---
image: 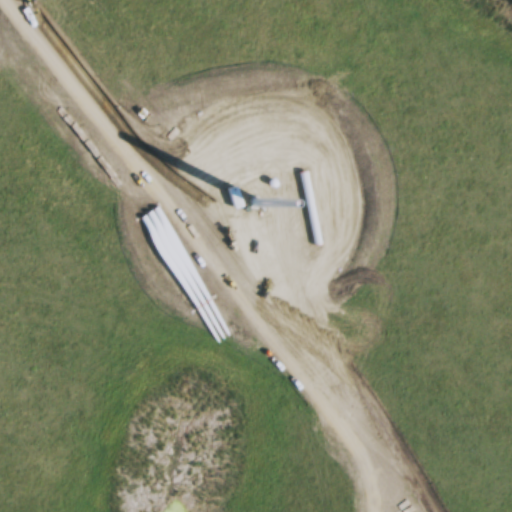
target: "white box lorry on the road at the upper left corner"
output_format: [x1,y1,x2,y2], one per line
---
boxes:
[20,2,39,28]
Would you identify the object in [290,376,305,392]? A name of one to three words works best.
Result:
vehicle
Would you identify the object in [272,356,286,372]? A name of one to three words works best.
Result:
vehicle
